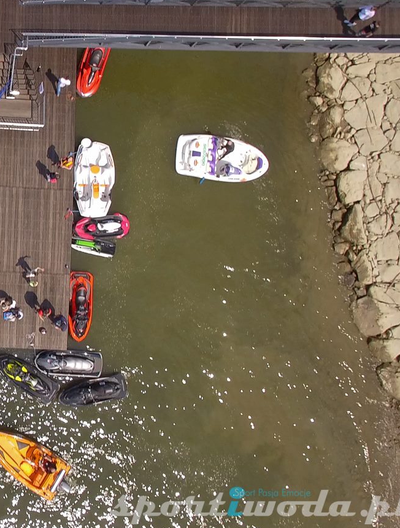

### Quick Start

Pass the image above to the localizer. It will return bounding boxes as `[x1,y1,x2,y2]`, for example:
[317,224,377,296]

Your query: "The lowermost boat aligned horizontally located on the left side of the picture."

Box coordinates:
[57,370,131,406]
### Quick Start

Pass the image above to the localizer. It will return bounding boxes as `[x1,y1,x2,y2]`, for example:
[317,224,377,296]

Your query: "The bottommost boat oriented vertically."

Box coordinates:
[69,270,95,342]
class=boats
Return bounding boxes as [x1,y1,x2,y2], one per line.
[70,140,115,217]
[71,237,117,259]
[0,428,74,499]
[170,136,269,184]
[74,214,131,239]
[0,355,62,410]
[34,350,103,377]
[80,51,114,98]
[57,370,131,406]
[69,270,95,342]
